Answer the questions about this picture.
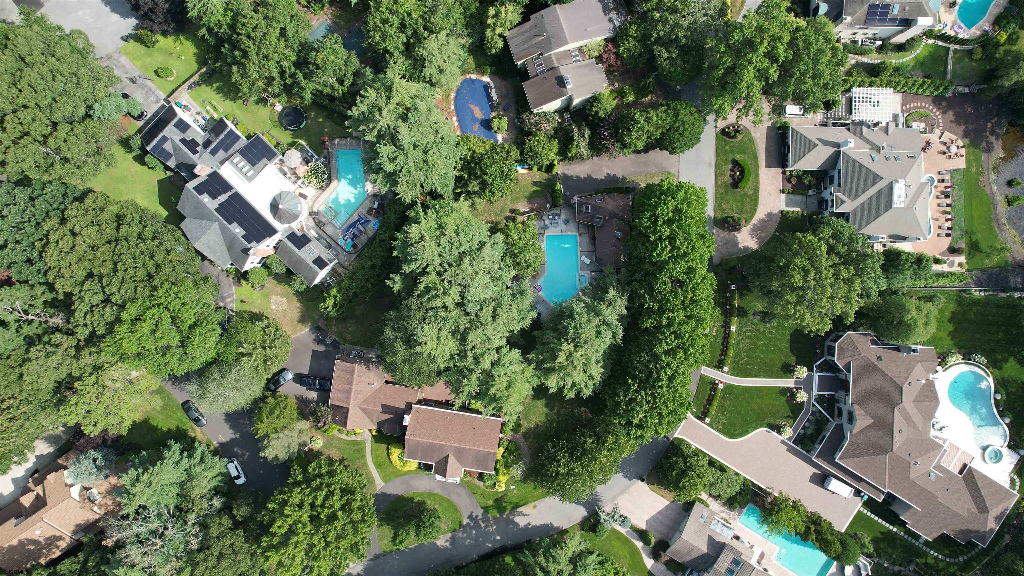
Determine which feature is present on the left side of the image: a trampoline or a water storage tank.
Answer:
trampoline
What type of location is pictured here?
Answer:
residential area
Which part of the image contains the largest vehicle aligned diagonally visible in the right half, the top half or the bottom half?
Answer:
bottom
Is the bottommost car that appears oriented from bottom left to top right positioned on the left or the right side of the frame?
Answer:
left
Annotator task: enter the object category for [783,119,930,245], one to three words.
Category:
house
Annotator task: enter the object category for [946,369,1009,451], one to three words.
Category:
swimming pool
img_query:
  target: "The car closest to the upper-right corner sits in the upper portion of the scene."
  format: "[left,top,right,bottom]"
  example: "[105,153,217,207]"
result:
[779,104,812,120]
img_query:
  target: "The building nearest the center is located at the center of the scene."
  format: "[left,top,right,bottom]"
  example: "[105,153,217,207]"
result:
[575,193,633,269]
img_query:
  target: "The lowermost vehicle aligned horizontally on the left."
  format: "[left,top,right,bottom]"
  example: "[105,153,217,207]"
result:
[298,376,332,393]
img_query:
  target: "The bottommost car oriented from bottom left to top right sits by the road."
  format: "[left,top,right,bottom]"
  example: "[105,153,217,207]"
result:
[265,366,297,393]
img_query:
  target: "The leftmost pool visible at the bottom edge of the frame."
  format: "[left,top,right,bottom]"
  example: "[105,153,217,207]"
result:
[737,503,836,576]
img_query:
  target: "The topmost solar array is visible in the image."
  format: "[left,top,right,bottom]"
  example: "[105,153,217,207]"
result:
[866,4,909,26]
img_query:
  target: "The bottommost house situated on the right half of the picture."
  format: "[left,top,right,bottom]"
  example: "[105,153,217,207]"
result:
[664,497,777,576]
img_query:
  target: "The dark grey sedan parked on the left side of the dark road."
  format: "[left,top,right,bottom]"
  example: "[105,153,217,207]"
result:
[181,398,207,429]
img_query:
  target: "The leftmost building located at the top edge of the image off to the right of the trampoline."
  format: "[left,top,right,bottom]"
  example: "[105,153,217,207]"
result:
[506,0,623,114]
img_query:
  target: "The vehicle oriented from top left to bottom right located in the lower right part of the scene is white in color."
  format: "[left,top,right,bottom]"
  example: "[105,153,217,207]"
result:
[818,472,853,498]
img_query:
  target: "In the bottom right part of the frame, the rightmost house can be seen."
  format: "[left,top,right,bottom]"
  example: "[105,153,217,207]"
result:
[806,331,1020,548]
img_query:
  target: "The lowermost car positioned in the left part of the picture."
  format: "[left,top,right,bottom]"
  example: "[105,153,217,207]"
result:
[225,456,249,486]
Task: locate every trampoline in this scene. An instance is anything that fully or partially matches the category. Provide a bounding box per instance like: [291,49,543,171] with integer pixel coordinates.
[278,101,307,130]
